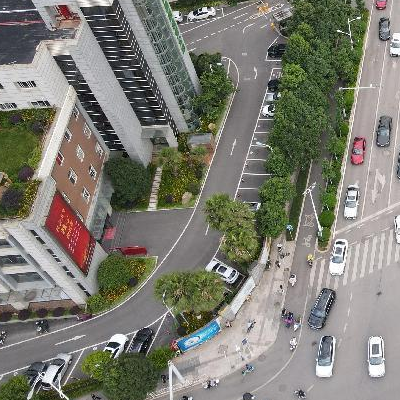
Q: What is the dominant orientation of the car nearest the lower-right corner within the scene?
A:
vertically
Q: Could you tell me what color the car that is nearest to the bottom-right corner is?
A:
white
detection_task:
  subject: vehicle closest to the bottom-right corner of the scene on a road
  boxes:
[366,336,386,379]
